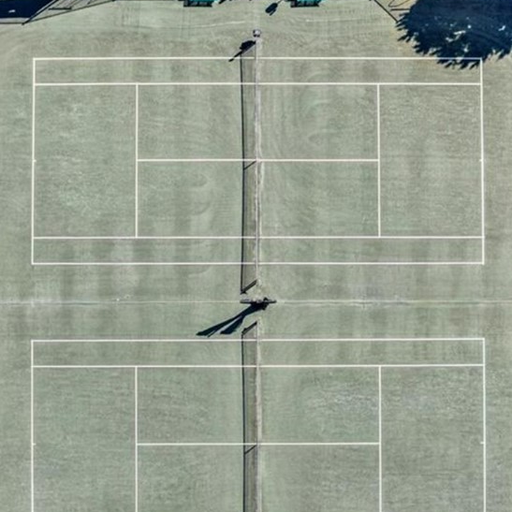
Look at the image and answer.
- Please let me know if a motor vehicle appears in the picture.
No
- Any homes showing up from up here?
No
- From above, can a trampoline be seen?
No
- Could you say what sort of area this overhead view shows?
sports ground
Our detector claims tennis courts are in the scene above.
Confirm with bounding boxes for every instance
[31,338,485,512]
[31,57,484,265]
